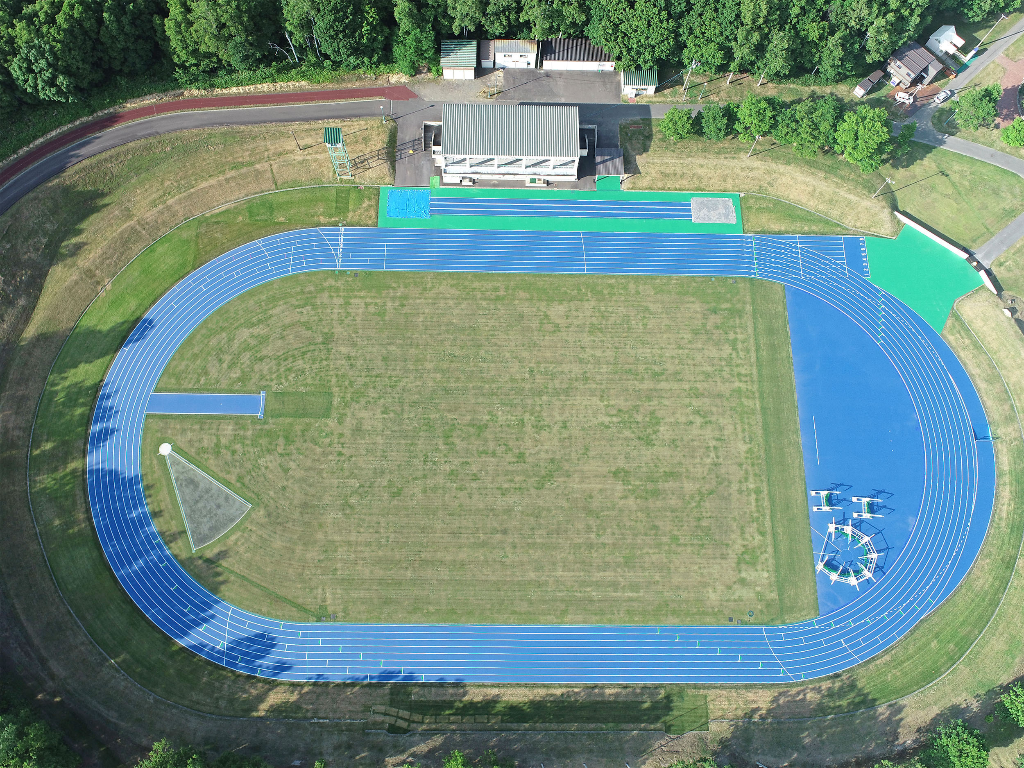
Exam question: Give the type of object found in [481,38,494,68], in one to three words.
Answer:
shed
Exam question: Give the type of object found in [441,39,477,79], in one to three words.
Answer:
building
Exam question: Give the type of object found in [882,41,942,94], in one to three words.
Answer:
house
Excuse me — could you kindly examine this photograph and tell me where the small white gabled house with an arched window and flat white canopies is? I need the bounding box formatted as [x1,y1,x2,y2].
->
[923,25,968,74]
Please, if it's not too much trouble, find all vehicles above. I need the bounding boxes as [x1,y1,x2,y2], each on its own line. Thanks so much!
[936,89,953,104]
[895,89,917,106]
